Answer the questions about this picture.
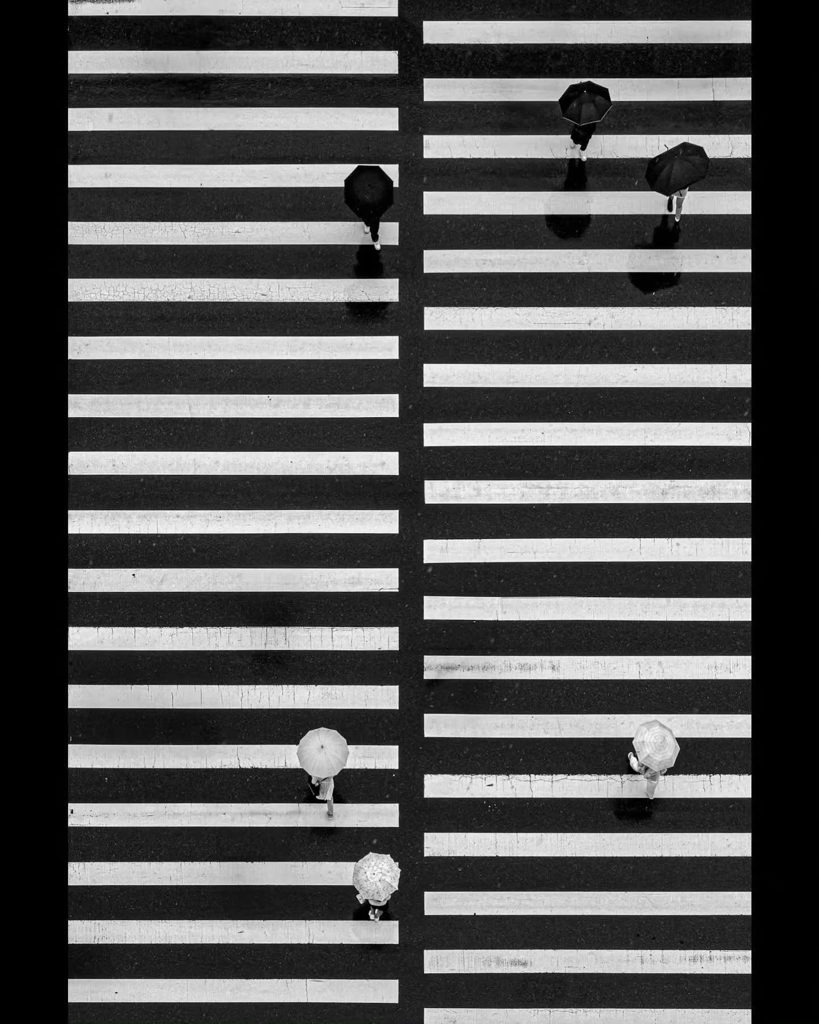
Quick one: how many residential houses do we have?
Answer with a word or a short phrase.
0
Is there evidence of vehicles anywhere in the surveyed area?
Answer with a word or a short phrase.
No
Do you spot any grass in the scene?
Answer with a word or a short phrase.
No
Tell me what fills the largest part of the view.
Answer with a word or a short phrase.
paved ground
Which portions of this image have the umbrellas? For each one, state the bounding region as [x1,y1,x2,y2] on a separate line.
[344,166,394,218]
[297,728,350,778]
[644,141,709,197]
[559,81,613,128]
[353,852,401,901]
[632,719,680,771]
